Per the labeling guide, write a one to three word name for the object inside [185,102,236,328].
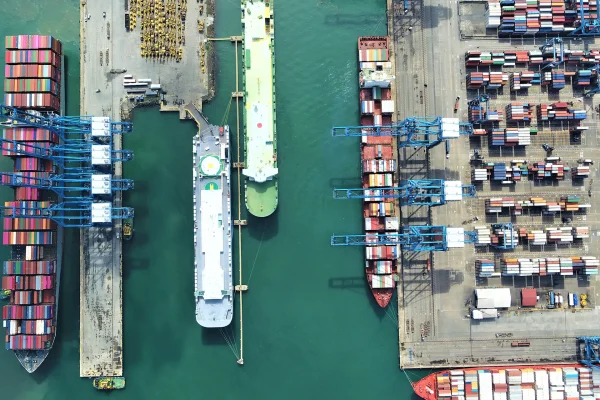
ship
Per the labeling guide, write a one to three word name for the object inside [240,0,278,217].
ship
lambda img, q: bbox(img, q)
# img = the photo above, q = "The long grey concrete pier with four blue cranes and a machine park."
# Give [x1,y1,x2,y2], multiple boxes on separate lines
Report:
[79,0,208,381]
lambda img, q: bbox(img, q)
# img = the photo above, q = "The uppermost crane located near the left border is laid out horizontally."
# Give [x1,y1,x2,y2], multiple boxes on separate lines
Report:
[0,107,129,147]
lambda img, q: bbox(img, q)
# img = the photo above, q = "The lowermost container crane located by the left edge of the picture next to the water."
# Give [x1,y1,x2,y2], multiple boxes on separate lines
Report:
[0,197,129,226]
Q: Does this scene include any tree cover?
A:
No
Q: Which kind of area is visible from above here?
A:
port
